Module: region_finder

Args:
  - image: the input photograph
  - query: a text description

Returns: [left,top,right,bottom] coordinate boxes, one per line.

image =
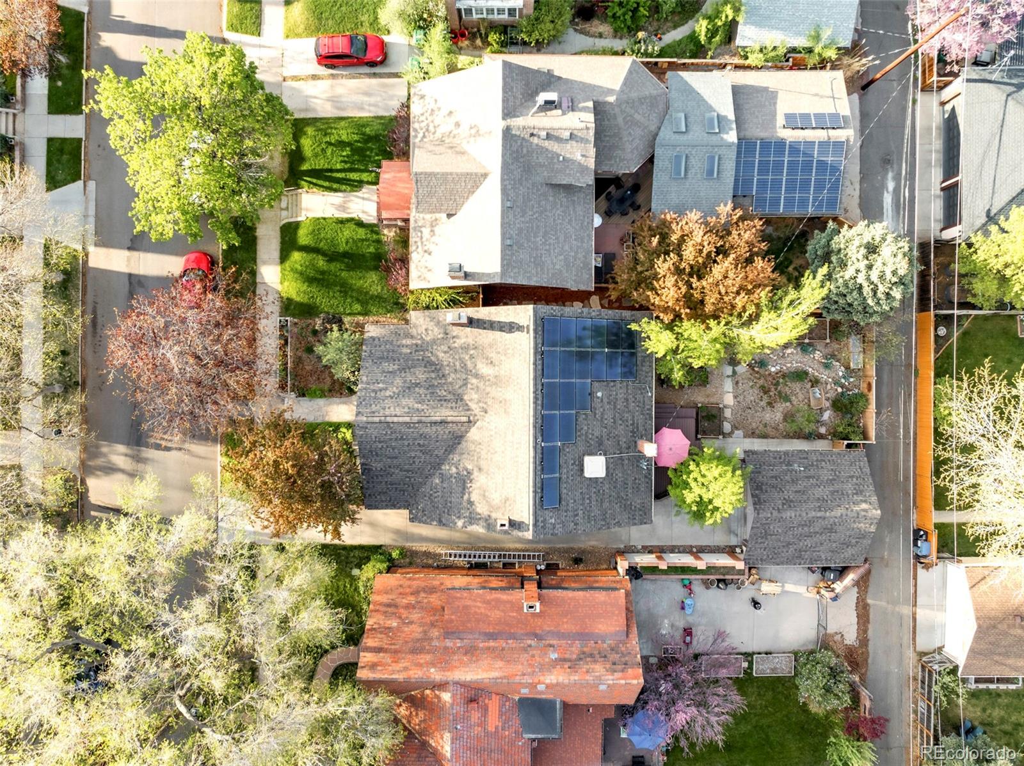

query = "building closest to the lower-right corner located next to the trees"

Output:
[946,562,1024,679]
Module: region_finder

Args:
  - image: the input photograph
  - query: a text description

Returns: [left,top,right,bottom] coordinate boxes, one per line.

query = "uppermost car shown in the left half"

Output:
[312,25,385,65]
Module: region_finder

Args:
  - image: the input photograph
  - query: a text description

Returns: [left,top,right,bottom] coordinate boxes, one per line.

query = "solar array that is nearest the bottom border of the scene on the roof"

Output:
[541,316,638,509]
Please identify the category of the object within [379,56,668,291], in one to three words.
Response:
house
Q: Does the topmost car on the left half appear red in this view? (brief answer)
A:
Yes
